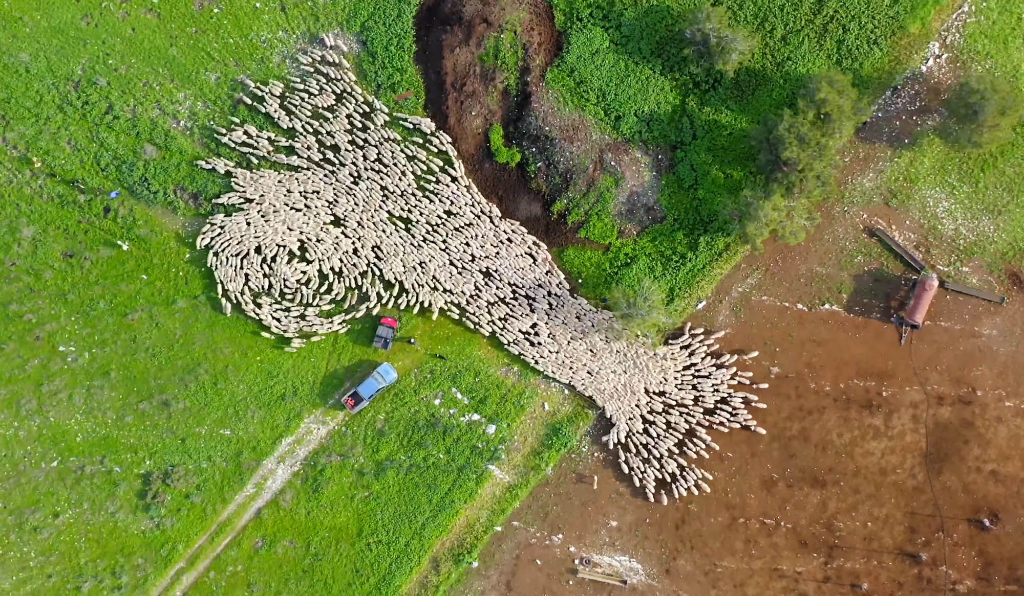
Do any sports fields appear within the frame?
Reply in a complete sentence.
No, the scene contains no sports field.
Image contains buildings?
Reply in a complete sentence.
No, no building is visible in the scene.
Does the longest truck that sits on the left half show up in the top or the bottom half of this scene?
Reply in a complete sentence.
Seen from above, the longest truck that sits on the left half lies in the bottom half of the view.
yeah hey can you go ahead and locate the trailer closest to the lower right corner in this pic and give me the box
[891,269,939,350]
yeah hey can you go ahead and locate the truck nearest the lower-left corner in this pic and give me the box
[340,362,401,417]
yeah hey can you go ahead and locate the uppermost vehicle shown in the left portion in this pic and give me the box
[375,317,400,351]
